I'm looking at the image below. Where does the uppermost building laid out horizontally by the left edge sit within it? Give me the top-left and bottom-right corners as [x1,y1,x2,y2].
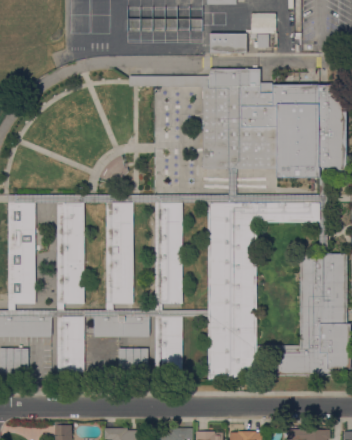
[0,317,52,338]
